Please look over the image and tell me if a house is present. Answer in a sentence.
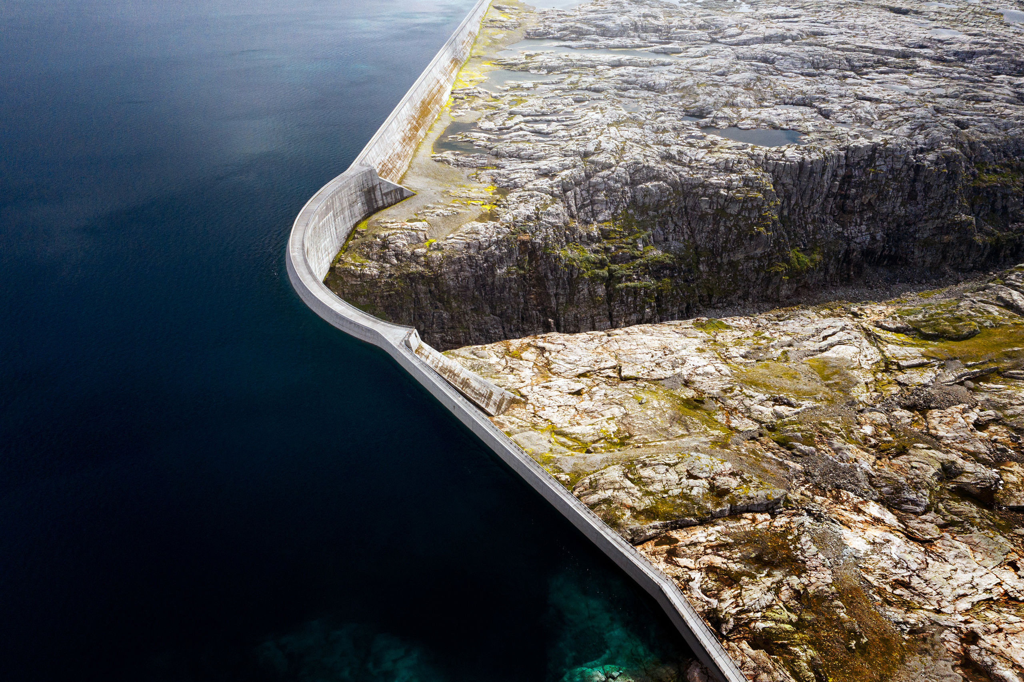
No, the picture doesn't show any house.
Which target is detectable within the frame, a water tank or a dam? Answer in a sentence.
Looking from above, you can make out a dam.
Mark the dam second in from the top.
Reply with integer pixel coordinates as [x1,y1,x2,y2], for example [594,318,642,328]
[286,161,518,449]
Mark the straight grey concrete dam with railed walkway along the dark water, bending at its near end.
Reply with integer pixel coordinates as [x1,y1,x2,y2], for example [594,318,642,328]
[392,340,746,682]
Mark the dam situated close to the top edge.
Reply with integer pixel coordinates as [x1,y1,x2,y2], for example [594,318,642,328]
[357,0,493,179]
